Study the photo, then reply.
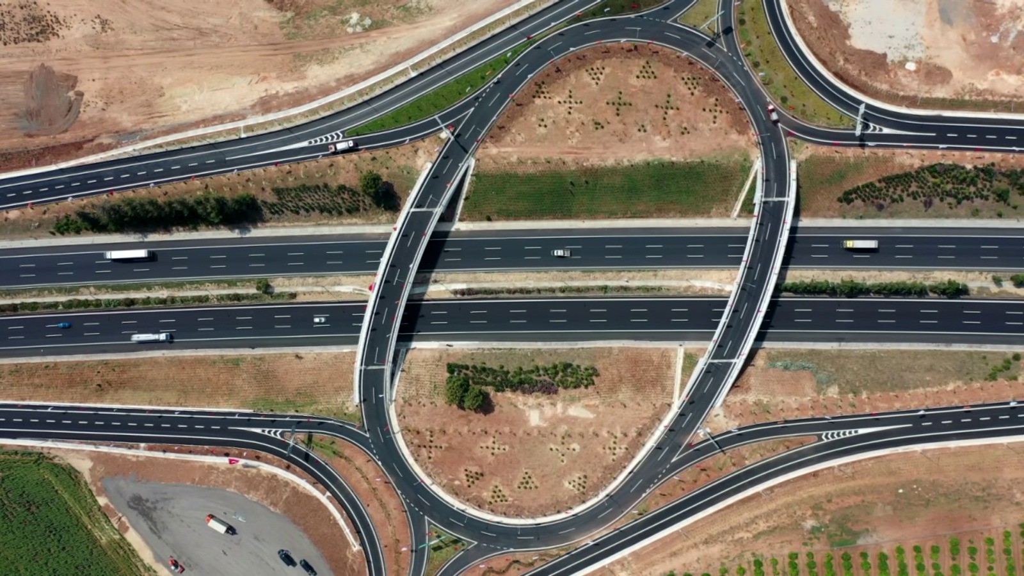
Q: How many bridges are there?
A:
2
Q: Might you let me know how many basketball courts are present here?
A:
0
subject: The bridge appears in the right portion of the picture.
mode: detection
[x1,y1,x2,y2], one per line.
[675,160,798,411]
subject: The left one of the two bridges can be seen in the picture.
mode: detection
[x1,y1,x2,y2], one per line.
[352,157,471,407]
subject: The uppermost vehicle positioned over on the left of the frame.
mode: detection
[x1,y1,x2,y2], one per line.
[329,141,355,153]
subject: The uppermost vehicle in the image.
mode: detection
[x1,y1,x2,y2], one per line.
[765,104,778,123]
